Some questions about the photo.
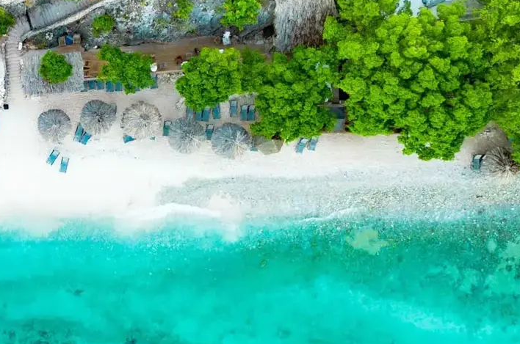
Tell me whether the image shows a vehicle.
No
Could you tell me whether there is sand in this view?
Yes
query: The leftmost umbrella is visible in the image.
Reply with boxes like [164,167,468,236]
[35,107,72,144]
